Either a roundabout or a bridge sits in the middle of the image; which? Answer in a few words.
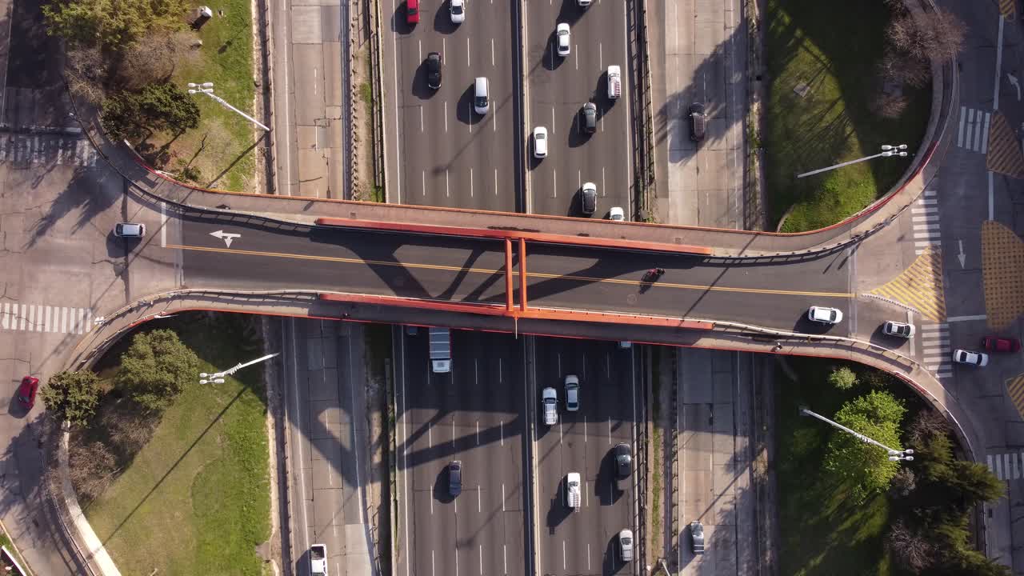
bridge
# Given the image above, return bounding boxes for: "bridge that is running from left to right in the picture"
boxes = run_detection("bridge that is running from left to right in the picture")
[165,184,856,361]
